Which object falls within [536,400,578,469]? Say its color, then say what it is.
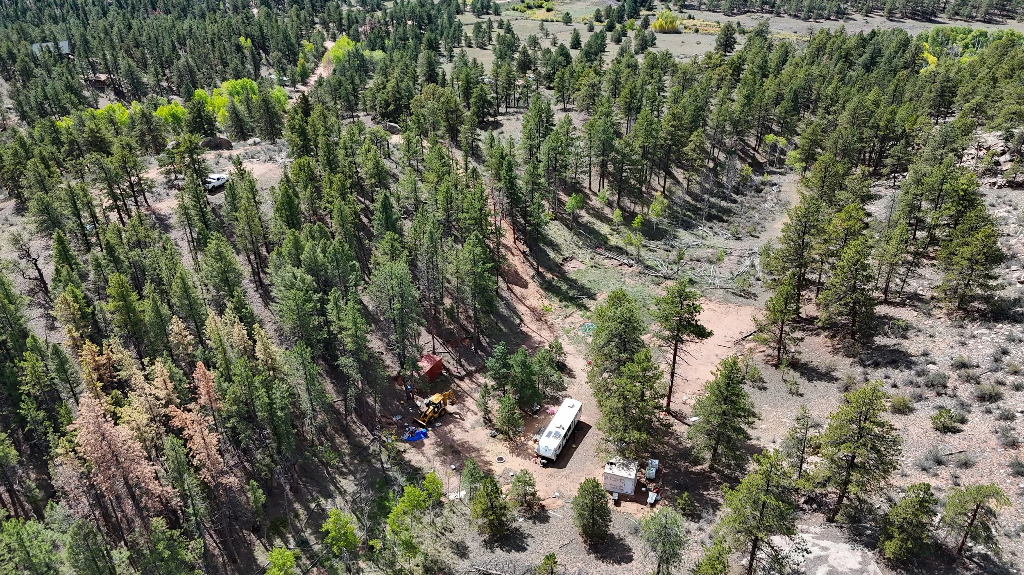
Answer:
white trailer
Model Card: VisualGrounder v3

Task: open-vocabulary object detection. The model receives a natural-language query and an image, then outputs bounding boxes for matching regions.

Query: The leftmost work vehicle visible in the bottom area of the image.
[412,386,456,427]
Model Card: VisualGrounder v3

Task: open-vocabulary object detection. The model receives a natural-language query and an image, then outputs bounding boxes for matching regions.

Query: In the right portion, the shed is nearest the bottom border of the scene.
[603,456,638,493]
